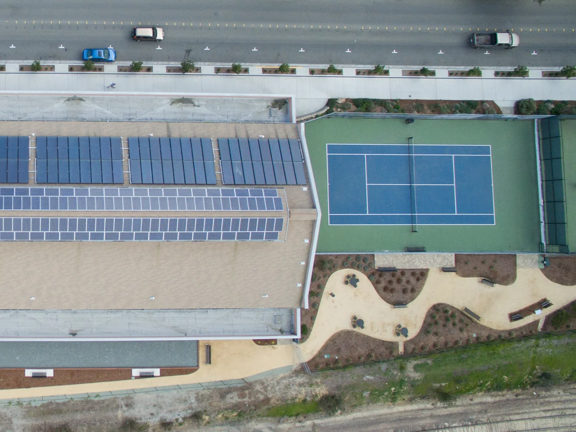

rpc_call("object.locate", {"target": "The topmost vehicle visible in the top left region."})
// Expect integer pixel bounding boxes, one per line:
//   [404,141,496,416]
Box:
[131,26,164,42]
